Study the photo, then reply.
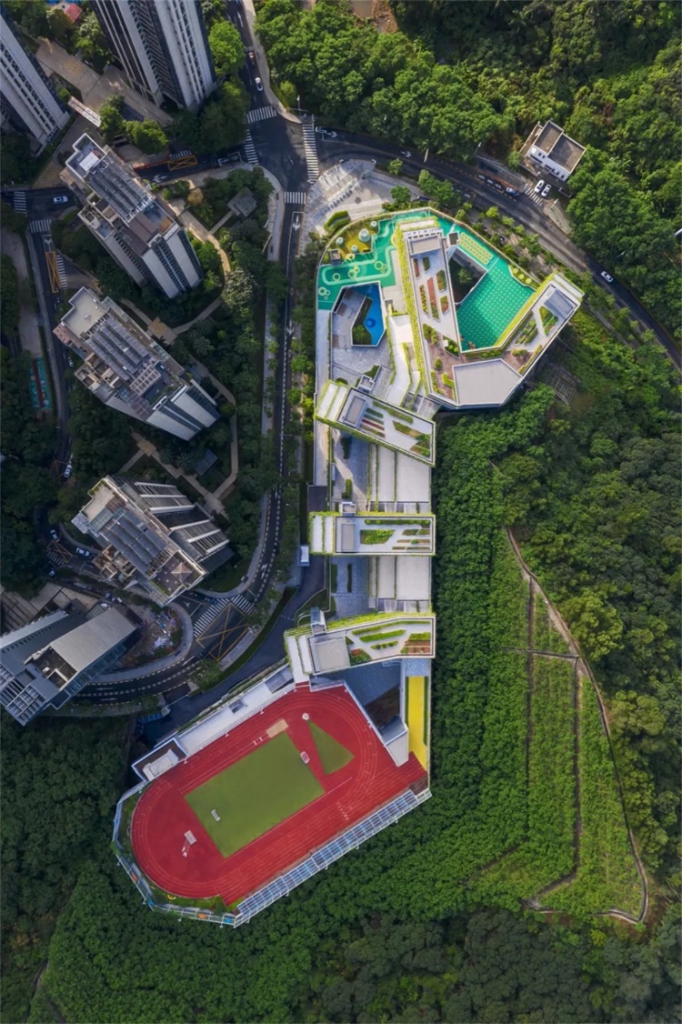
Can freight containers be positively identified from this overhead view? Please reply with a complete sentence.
No, the scene contains no freight container.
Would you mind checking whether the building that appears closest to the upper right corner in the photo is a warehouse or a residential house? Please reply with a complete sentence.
It looks like the building that appears closest to the upper right corner is a residential house.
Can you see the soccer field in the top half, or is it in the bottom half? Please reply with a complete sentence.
The soccer field is in the bottom half of the image.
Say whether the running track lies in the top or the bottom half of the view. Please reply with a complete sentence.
The running track sits in the bottom half of the picture.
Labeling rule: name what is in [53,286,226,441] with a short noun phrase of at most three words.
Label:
building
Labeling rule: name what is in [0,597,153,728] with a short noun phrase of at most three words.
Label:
building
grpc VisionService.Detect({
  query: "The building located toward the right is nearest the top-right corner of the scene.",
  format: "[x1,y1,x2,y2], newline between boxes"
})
[522,121,586,182]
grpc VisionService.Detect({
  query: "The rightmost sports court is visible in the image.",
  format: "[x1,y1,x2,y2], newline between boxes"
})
[458,260,535,350]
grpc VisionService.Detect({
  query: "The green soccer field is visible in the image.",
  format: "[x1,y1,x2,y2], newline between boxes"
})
[185,732,325,857]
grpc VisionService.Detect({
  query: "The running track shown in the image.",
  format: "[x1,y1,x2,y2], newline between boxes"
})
[130,684,427,906]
